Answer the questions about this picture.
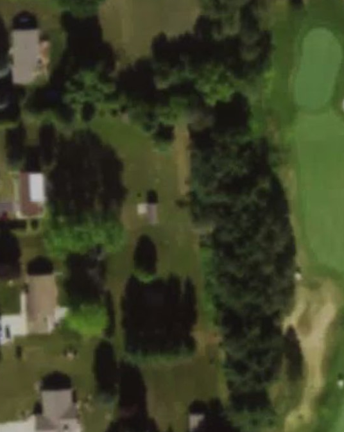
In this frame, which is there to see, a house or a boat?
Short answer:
house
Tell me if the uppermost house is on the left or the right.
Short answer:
left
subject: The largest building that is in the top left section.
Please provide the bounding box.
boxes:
[11,27,49,83]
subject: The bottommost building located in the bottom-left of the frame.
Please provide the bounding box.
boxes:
[34,390,80,432]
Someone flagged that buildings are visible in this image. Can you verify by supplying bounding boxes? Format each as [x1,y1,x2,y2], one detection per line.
[34,390,80,432]
[26,274,55,331]
[11,27,49,83]
[138,202,156,224]
[19,171,44,214]
[189,413,205,431]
